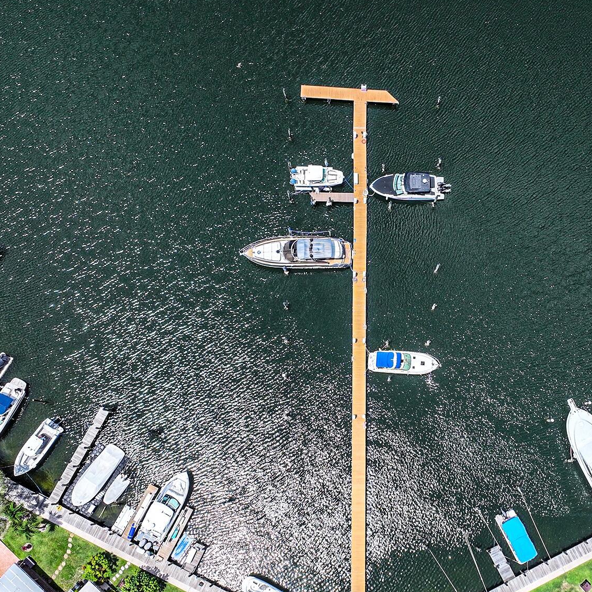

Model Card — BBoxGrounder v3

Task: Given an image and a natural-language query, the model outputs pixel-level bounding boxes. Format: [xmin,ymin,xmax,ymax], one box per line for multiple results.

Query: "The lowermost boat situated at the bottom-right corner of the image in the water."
[497,508,538,566]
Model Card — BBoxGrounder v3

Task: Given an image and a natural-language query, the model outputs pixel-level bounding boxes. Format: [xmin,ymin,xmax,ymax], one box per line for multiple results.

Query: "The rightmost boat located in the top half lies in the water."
[369,175,445,202]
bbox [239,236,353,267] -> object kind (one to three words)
boat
